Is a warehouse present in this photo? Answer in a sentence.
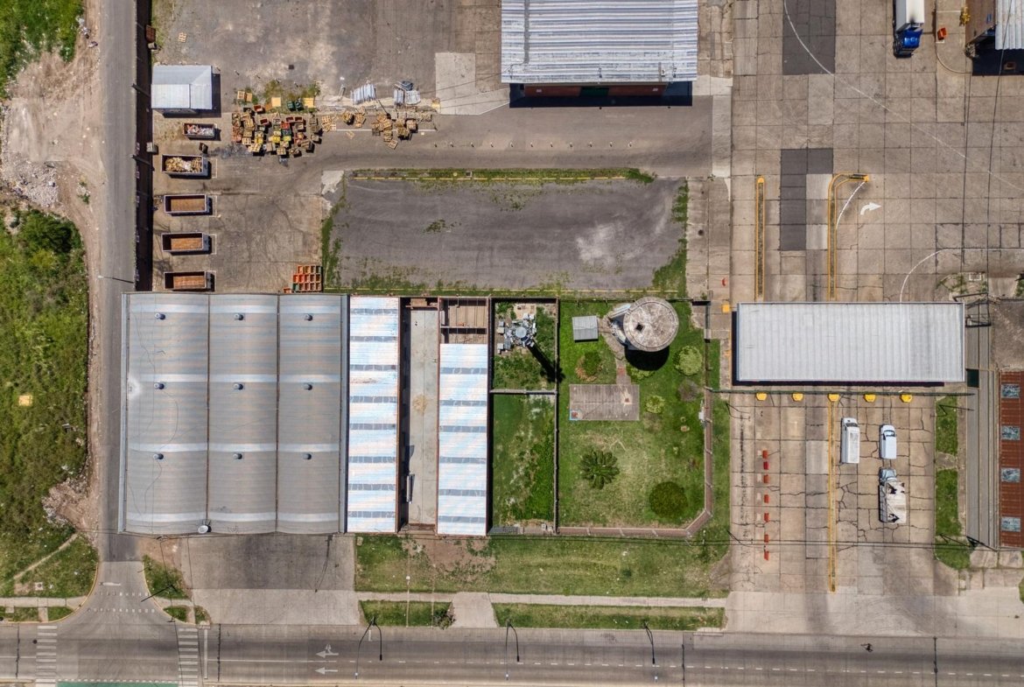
Yes, a warehouse can be made out from above.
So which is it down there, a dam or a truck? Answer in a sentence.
This aerial view contains a truck.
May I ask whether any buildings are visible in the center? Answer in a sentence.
Yes, a building is visible in the center.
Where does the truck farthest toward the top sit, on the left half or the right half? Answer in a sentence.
The truck farthest toward the top appears in the right half of the scene.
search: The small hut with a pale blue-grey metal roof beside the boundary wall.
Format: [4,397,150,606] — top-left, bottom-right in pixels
[152,65,212,109]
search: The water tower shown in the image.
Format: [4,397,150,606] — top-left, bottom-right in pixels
[607,297,680,352]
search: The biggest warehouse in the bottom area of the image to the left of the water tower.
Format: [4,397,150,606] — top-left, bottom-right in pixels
[120,293,349,536]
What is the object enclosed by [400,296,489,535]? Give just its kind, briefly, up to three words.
shed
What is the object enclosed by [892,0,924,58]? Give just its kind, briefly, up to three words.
truck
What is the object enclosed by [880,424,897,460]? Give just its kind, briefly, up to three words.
vehicle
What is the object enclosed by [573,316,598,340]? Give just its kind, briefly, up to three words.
building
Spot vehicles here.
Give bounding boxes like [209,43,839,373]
[842,417,861,464]
[881,467,905,527]
[880,424,897,460]
[892,0,924,58]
